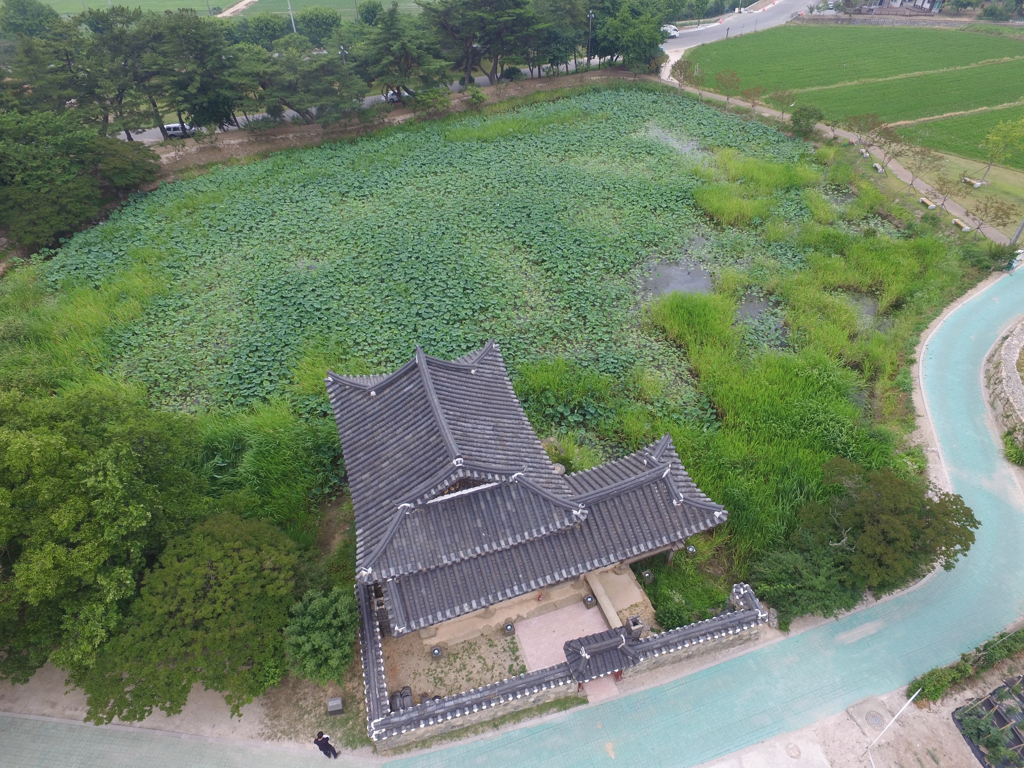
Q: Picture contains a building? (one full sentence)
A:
Yes, a building can be made out from above.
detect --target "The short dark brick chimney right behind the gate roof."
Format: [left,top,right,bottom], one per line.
[626,619,644,640]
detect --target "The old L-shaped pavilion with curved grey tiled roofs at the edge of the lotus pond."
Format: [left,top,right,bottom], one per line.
[324,336,729,645]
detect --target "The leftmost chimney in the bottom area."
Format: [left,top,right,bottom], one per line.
[372,595,397,643]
